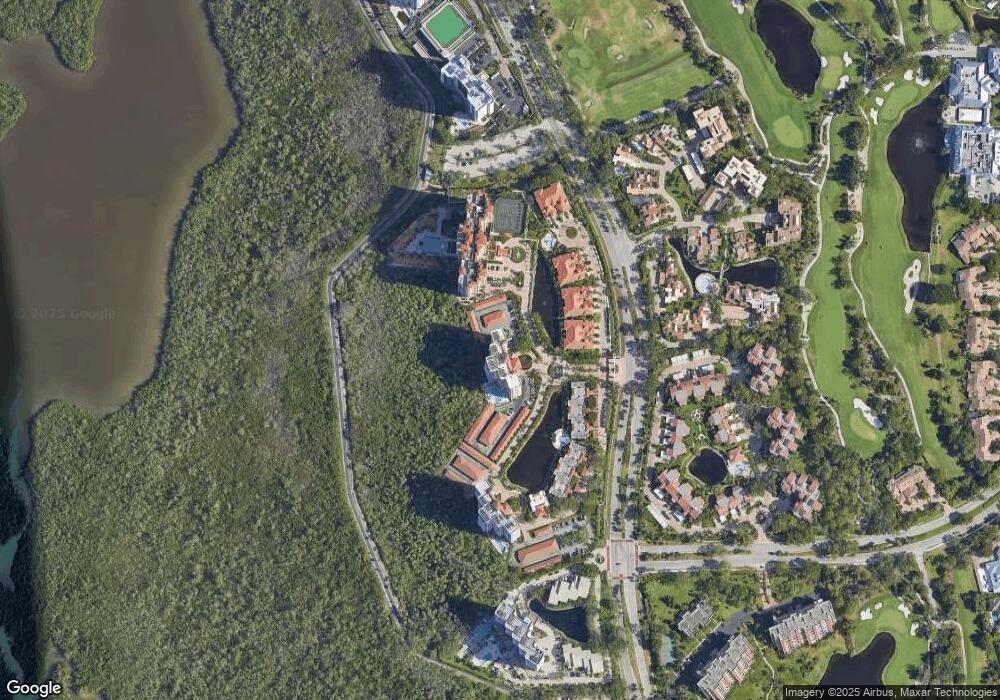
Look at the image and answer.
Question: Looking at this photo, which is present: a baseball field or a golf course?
golf course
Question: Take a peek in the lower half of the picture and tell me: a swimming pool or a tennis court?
swimming pool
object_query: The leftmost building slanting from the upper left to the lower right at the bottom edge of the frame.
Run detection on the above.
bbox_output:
[495,600,544,673]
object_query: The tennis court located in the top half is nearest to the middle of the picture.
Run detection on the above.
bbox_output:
[494,196,525,232]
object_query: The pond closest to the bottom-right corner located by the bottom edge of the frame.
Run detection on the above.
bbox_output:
[810,632,896,700]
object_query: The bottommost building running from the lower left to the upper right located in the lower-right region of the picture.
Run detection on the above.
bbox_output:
[696,635,758,700]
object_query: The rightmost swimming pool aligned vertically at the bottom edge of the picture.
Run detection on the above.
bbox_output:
[658,632,675,667]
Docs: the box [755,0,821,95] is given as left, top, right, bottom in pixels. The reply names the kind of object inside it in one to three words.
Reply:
pond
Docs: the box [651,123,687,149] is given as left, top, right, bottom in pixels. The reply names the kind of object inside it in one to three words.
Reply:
house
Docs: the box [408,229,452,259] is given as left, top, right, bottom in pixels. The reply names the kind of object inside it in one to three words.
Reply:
swimming pool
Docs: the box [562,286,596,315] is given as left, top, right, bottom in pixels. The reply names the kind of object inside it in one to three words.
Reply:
building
